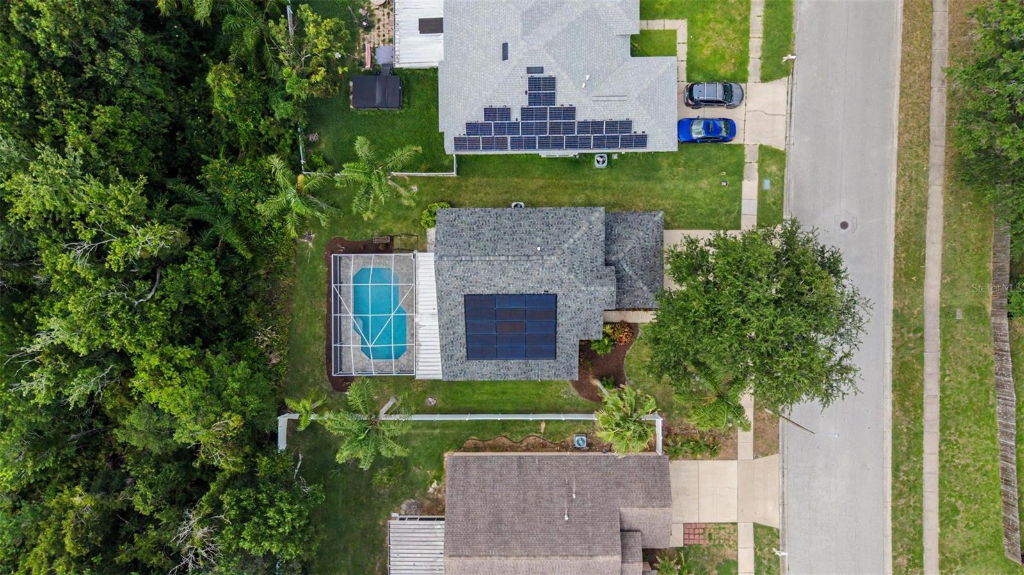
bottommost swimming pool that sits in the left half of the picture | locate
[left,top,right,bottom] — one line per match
[350,264,410,363]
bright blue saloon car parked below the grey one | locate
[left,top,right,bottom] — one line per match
[677,114,737,143]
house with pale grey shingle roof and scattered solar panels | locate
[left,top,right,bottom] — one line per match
[395,0,678,161]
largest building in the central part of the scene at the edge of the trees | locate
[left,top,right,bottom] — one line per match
[414,207,665,381]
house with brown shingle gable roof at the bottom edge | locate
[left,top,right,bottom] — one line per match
[388,448,672,575]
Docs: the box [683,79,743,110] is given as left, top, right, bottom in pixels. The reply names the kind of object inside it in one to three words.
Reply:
car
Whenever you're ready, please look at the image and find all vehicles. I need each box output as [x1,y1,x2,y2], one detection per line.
[677,114,737,143]
[683,79,743,110]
